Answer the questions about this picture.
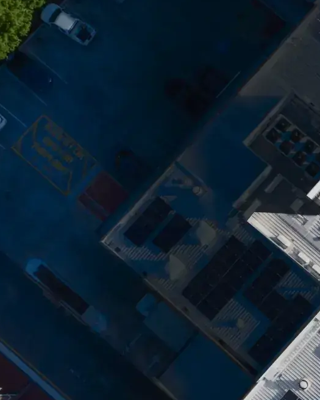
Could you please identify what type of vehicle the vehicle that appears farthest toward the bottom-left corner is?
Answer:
truck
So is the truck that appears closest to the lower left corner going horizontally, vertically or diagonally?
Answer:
diagonally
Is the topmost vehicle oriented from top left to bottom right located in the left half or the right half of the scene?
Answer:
left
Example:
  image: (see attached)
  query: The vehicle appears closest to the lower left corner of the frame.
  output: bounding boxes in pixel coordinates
[23,256,113,341]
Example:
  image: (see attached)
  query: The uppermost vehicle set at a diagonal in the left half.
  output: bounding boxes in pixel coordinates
[40,2,101,50]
